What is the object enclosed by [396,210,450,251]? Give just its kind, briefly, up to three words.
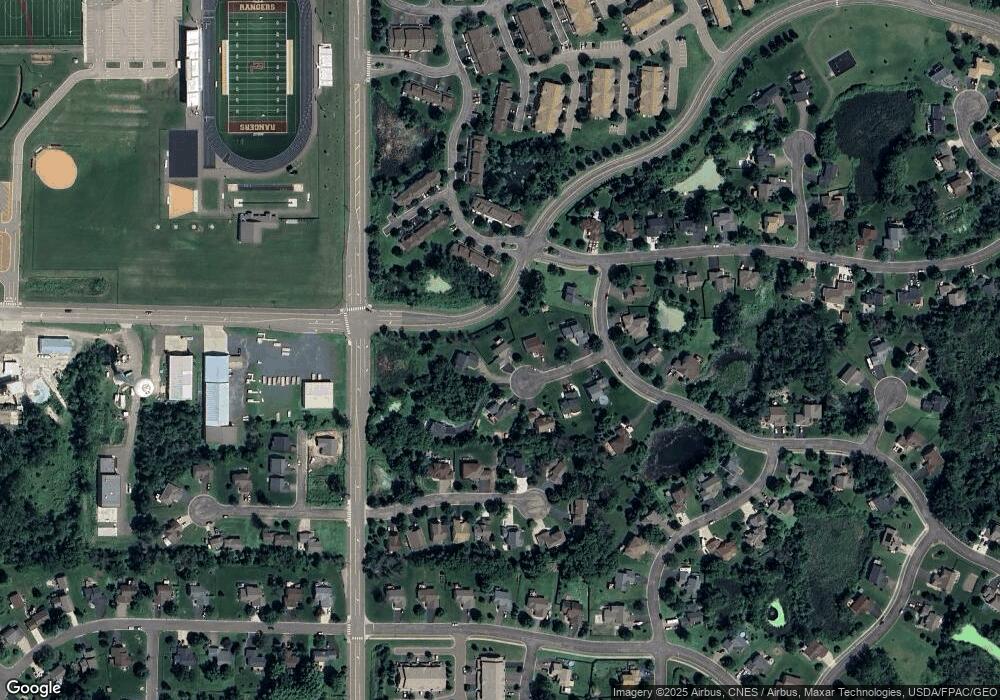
house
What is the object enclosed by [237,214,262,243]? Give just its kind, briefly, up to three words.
shed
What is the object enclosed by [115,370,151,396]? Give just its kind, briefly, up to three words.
water tower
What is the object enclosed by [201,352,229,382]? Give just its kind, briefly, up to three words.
building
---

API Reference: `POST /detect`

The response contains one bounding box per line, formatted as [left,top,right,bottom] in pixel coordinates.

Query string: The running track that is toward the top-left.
[203,0,311,172]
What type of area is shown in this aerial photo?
residential area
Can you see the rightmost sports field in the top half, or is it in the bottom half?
top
